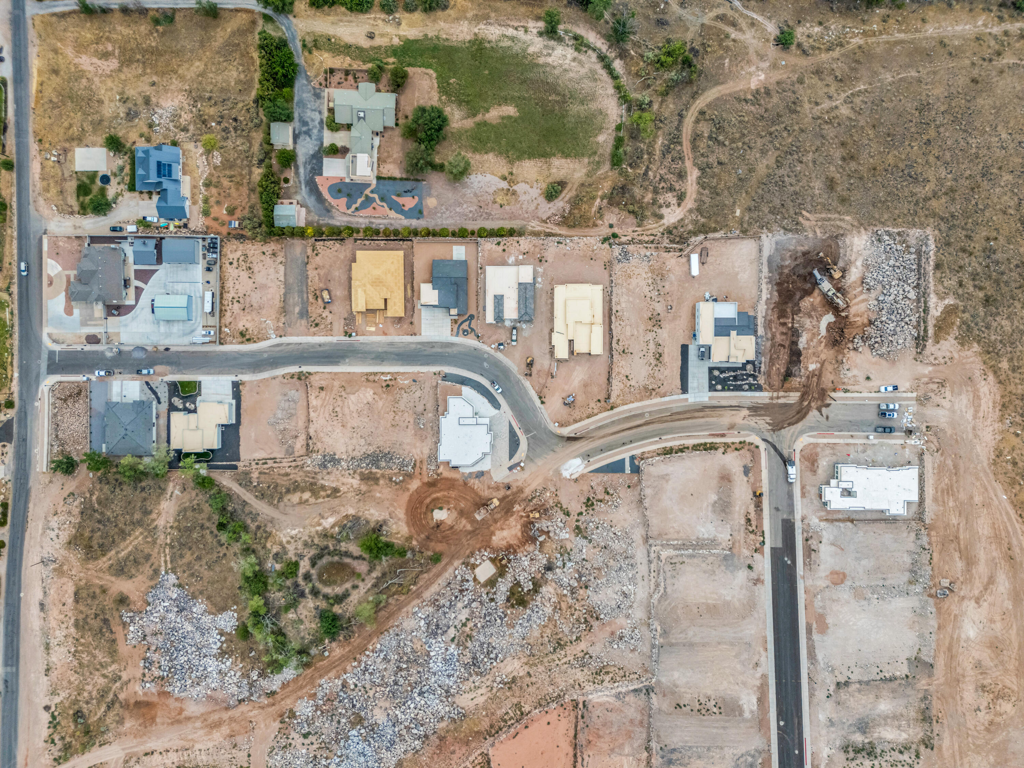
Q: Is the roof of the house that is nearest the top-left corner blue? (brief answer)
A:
Yes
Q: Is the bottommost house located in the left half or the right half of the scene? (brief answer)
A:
right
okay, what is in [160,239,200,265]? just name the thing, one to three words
building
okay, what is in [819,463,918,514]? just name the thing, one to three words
house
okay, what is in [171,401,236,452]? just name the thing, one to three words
house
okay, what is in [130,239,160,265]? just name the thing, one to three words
shed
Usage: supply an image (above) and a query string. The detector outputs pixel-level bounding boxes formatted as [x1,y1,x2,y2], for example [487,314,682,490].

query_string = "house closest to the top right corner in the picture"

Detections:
[694,302,755,363]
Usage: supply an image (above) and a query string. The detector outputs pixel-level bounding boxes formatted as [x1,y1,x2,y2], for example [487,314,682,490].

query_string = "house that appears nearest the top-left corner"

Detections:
[134,143,190,220]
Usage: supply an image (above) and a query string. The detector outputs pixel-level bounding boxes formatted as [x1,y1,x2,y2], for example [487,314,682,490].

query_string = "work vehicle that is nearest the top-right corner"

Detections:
[818,250,843,280]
